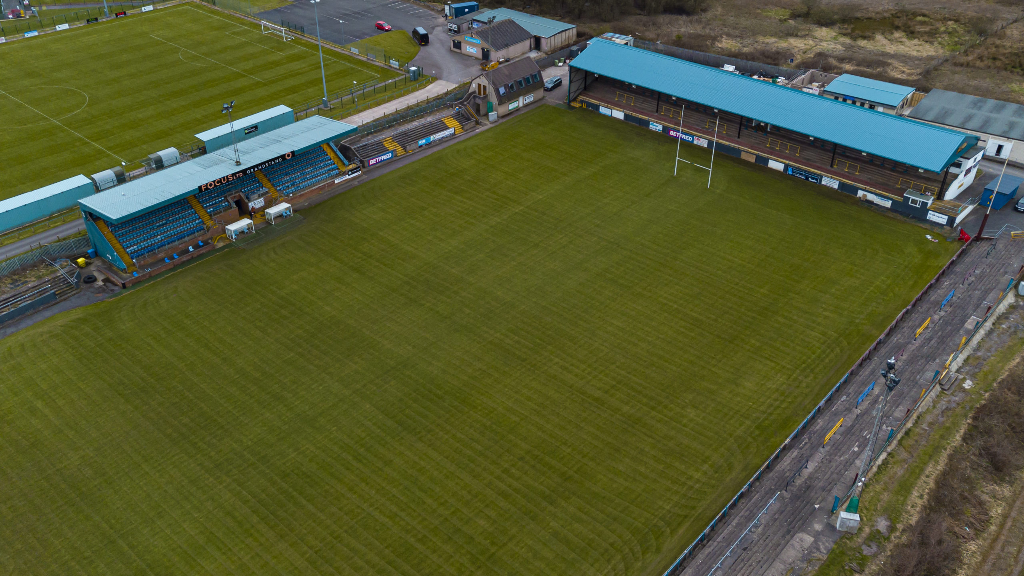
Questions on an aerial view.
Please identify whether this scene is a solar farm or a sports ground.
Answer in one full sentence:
This looks like a sports ground.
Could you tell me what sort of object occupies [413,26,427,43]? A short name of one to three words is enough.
vehicle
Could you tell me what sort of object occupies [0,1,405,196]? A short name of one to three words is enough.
soccer field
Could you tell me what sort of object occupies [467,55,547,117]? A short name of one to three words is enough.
building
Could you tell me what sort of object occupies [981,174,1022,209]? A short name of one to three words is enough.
shed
